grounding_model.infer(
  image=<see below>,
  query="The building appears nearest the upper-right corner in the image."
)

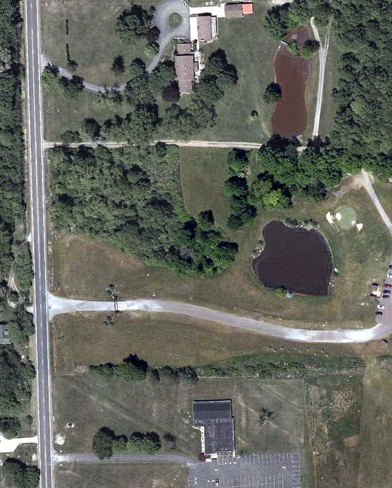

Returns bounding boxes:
[224,2,253,17]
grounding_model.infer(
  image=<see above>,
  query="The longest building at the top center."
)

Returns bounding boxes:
[174,37,199,93]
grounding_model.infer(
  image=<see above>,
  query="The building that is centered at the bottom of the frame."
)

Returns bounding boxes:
[192,400,234,461]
